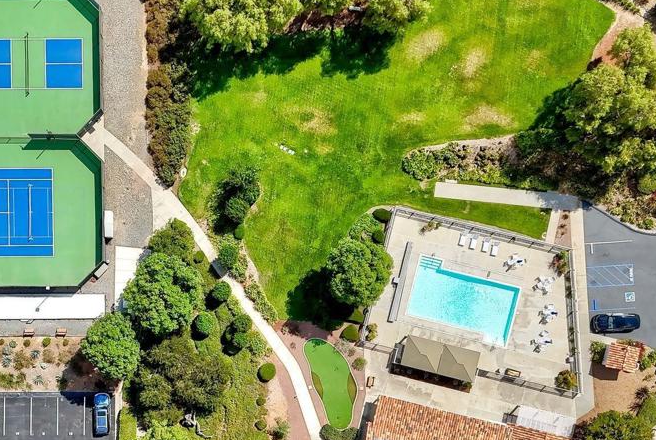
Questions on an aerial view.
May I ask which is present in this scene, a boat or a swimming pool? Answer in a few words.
swimming pool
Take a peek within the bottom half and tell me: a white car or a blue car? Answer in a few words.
blue car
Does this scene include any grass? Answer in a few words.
Yes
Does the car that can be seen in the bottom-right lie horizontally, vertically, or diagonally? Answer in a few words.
horizontally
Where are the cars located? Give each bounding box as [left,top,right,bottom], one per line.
[589,313,637,333]
[93,394,112,436]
